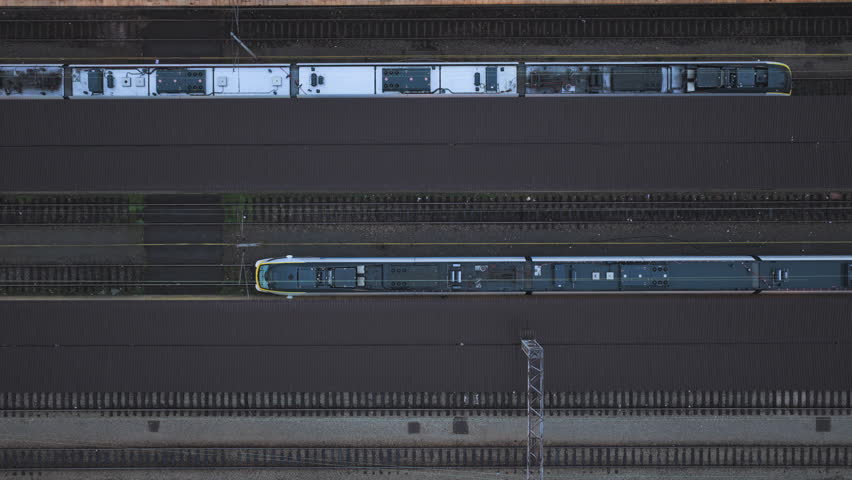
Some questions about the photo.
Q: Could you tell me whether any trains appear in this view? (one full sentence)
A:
Yes, a train appears in the view.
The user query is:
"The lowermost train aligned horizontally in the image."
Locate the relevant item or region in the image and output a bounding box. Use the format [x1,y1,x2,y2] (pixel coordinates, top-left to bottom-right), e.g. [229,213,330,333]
[255,253,852,298]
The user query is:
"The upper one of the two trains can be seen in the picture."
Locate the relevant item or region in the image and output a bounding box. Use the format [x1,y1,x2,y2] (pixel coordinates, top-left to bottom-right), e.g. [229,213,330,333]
[0,60,792,99]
